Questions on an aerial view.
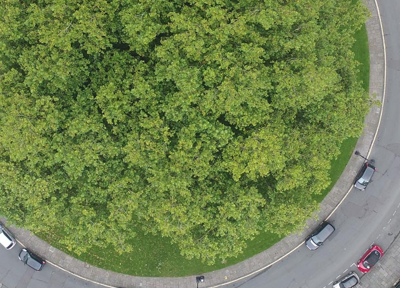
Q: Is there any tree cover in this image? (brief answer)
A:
Yes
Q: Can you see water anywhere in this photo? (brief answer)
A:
No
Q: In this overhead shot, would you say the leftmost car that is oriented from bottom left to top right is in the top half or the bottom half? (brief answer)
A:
bottom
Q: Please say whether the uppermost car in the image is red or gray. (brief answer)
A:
gray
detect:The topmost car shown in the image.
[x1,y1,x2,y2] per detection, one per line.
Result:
[352,161,378,191]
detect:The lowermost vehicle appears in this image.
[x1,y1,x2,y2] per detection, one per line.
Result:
[332,271,360,288]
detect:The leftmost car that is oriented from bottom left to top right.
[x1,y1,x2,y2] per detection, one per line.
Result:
[304,220,337,250]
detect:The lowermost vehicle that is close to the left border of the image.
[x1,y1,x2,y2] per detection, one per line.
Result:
[18,247,46,272]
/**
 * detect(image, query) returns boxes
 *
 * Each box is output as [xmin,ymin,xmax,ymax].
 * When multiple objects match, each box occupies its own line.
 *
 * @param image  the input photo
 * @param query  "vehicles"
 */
[18,247,46,272]
[352,161,378,191]
[332,271,360,288]
[356,244,384,273]
[304,220,337,250]
[0,221,17,250]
